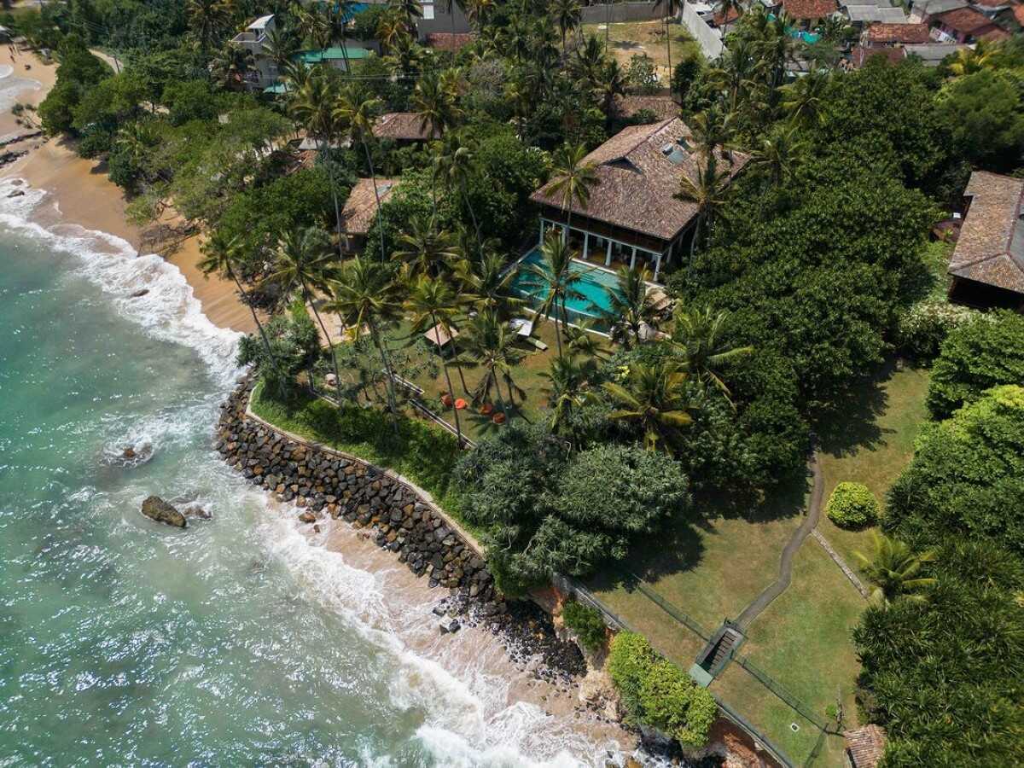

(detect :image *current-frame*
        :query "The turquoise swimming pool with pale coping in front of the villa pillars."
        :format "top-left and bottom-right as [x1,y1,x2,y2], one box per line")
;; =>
[495,245,656,340]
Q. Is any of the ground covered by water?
Yes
